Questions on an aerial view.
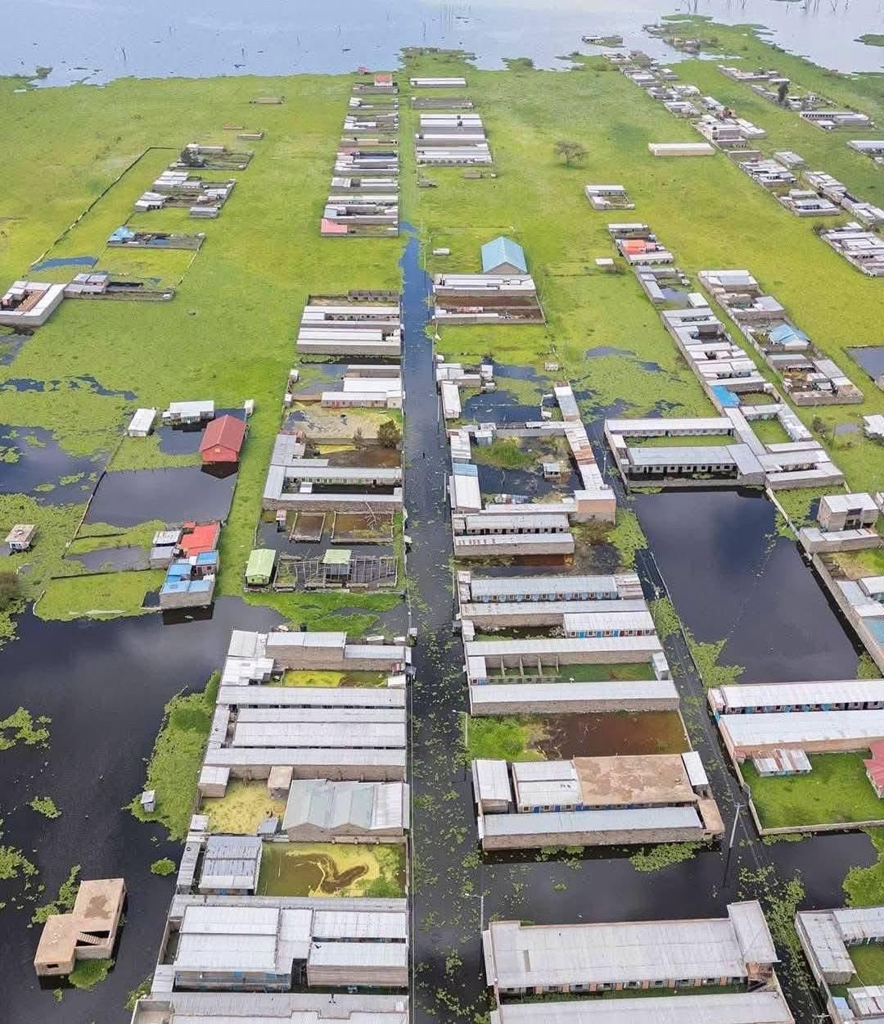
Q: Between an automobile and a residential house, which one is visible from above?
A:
residential house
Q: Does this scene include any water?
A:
Yes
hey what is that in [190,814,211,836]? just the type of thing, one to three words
shed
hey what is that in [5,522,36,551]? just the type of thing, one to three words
house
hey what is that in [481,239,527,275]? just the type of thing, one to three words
building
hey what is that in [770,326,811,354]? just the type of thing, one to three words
house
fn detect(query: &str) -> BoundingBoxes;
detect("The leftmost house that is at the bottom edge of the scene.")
[34,879,127,980]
